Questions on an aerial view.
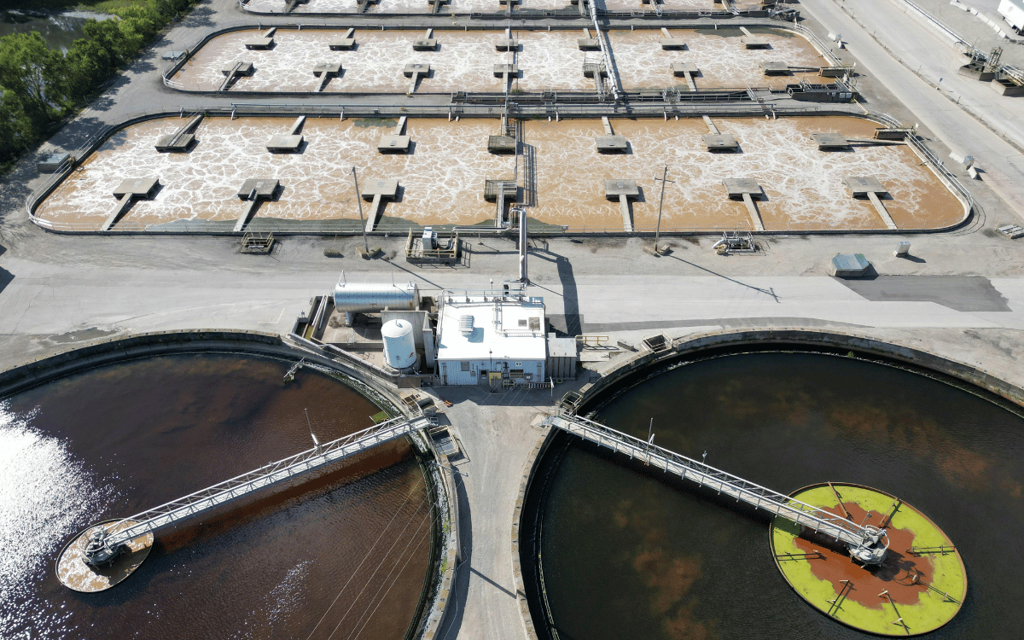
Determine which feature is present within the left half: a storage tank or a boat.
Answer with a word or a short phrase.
storage tank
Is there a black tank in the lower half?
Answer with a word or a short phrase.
Yes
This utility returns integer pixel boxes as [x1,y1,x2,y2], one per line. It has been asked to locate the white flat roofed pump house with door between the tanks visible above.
[434,292,547,386]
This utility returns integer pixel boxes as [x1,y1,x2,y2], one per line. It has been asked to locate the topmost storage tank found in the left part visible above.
[333,269,447,324]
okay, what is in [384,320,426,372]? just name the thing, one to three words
storage tank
